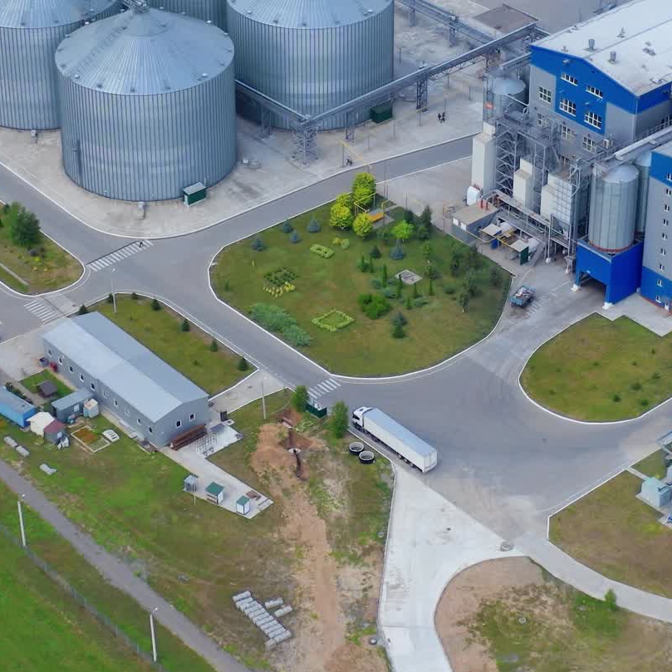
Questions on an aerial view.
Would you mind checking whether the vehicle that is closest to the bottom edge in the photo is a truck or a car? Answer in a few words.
truck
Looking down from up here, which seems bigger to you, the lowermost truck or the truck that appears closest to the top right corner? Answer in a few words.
the lowermost truck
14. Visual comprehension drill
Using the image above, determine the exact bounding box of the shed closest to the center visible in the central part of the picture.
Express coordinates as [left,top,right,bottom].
[308,389,335,416]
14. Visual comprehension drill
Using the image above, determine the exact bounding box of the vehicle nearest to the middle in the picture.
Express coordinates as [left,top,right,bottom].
[344,403,437,472]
